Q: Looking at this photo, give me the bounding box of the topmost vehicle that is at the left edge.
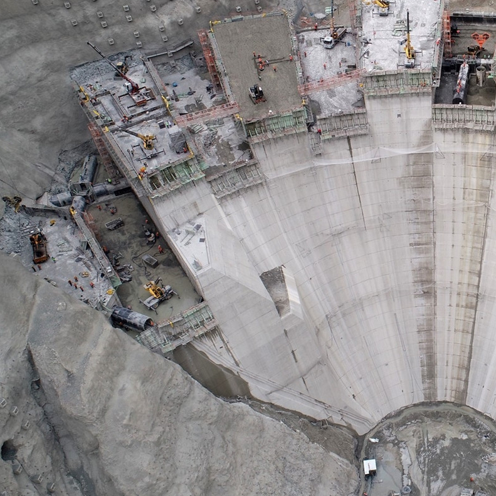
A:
[7,192,24,214]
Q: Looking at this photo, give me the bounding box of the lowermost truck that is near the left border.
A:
[22,223,48,257]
